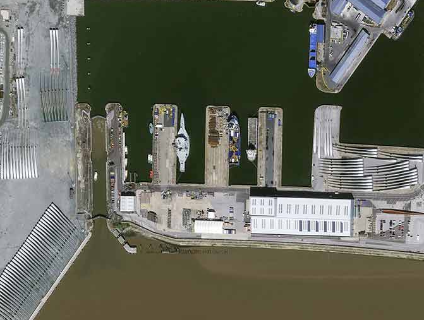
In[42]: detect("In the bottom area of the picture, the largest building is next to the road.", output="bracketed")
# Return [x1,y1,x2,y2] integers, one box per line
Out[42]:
[276,199,356,236]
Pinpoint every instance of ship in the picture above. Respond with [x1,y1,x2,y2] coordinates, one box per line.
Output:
[249,117,257,149]
[308,25,317,78]
[175,113,189,172]
[122,113,129,124]
[388,9,412,39]
[229,114,239,164]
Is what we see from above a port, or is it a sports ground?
port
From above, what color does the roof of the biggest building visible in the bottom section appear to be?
white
